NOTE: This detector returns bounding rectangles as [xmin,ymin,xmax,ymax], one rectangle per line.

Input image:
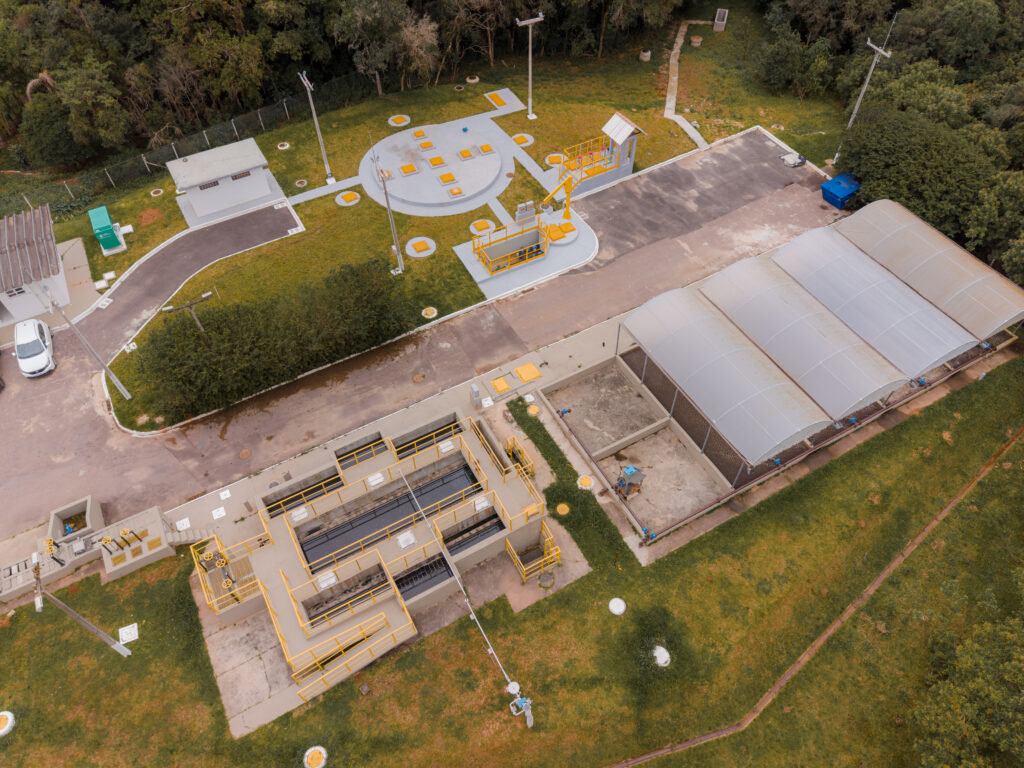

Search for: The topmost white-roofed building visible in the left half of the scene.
[165,134,274,217]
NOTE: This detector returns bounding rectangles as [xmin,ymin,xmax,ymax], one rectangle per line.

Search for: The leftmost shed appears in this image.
[0,204,70,322]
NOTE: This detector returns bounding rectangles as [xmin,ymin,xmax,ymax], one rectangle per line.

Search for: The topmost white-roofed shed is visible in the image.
[600,112,647,168]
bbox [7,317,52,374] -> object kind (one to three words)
car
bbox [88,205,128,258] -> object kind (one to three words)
building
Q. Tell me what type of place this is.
industrial area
